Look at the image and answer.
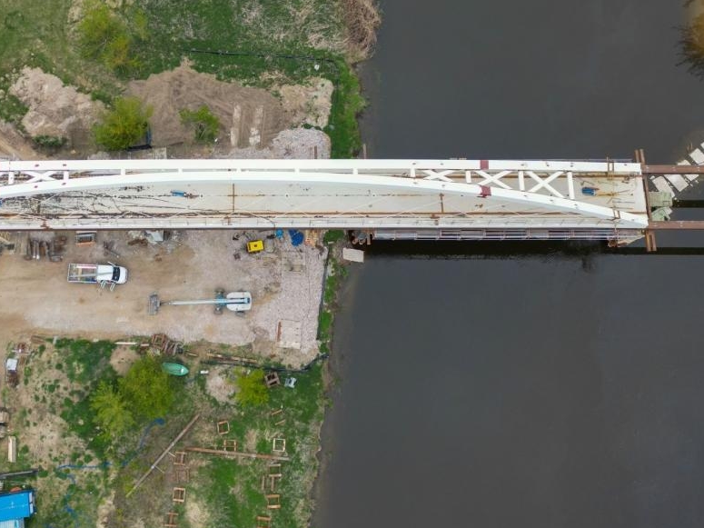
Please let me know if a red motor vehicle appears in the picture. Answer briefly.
No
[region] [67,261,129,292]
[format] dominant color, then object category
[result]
white truck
